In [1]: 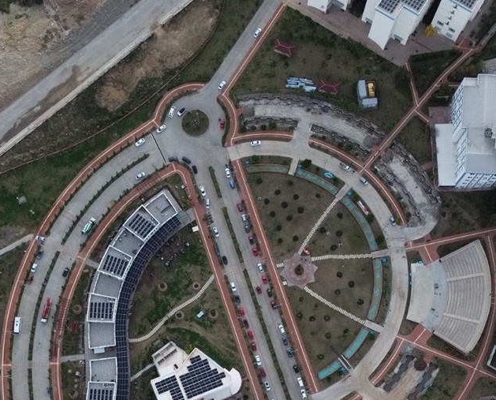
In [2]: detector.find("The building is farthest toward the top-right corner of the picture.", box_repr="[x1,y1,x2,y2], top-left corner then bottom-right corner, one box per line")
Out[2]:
[436,0,478,42]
